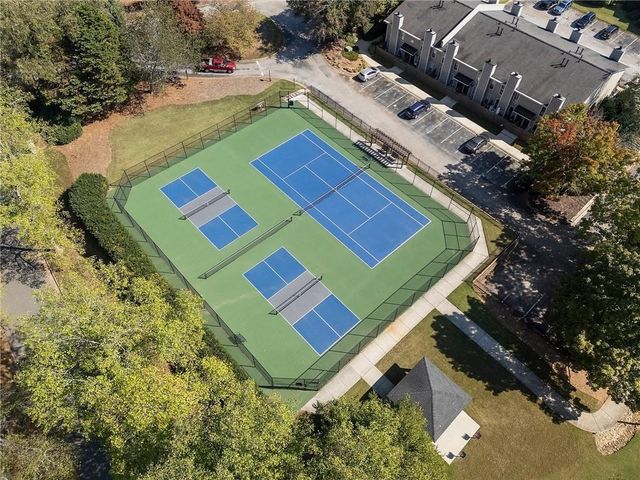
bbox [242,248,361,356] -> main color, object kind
blue sports court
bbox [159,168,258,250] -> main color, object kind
blue sports court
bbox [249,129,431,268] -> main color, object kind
blue tennis court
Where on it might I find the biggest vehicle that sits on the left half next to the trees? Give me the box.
[202,56,239,72]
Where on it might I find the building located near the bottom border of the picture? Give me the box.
[385,356,481,464]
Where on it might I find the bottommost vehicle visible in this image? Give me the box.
[461,136,488,157]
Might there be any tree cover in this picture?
Yes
